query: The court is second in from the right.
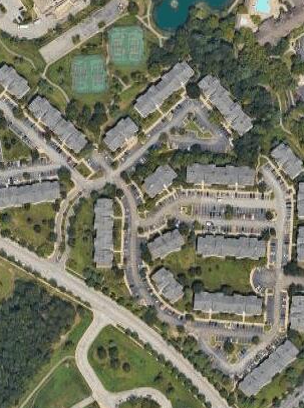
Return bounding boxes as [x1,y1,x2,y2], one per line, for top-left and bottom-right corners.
[109,27,127,65]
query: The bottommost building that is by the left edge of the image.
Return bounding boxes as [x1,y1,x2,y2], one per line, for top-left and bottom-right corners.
[0,184,62,209]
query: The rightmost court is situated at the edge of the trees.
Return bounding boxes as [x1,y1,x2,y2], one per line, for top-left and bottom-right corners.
[126,27,144,65]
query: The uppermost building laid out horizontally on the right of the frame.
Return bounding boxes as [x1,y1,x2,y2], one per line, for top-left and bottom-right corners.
[186,165,255,188]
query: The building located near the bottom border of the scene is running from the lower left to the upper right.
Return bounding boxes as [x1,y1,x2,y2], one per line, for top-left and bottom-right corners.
[243,342,297,393]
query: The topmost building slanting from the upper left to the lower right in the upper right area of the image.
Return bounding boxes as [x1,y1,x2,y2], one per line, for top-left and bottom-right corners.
[197,77,252,135]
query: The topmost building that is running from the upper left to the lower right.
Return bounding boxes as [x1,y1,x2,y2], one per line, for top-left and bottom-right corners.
[0,64,29,100]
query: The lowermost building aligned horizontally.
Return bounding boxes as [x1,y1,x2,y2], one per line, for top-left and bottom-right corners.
[193,292,262,316]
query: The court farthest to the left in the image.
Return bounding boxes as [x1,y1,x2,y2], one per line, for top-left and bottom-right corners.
[72,57,90,94]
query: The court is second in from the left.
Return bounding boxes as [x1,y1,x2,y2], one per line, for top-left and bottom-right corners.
[90,57,107,94]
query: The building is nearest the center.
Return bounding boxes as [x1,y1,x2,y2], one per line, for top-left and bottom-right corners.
[142,164,175,199]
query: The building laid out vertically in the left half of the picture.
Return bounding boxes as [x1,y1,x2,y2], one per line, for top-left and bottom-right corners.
[95,198,112,269]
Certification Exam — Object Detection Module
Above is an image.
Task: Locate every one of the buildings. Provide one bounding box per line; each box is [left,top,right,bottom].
[290,296,304,334]
[243,342,297,393]
[193,292,262,316]
[258,0,304,45]
[142,164,175,199]
[133,63,194,117]
[102,118,138,153]
[95,198,112,269]
[270,146,304,179]
[297,226,304,264]
[0,64,29,100]
[31,98,87,155]
[0,184,62,209]
[186,165,255,188]
[196,236,266,259]
[151,271,185,302]
[149,232,184,260]
[197,77,252,135]
[297,183,304,219]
